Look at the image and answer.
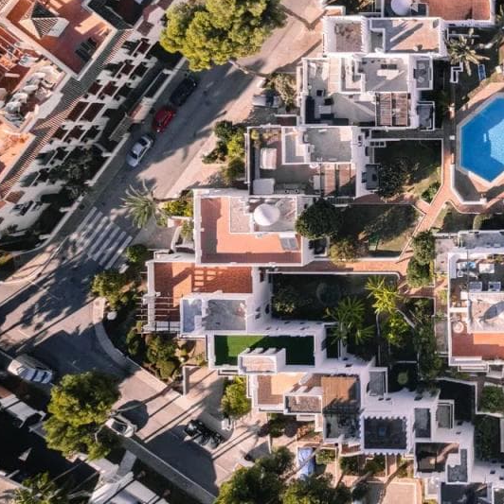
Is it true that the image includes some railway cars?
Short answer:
No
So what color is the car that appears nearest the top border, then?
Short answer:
black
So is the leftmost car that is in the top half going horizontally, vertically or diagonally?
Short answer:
diagonally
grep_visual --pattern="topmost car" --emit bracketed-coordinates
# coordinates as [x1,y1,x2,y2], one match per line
[167,70,200,109]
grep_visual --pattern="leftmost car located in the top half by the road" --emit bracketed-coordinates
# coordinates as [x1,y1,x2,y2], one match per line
[124,132,158,171]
